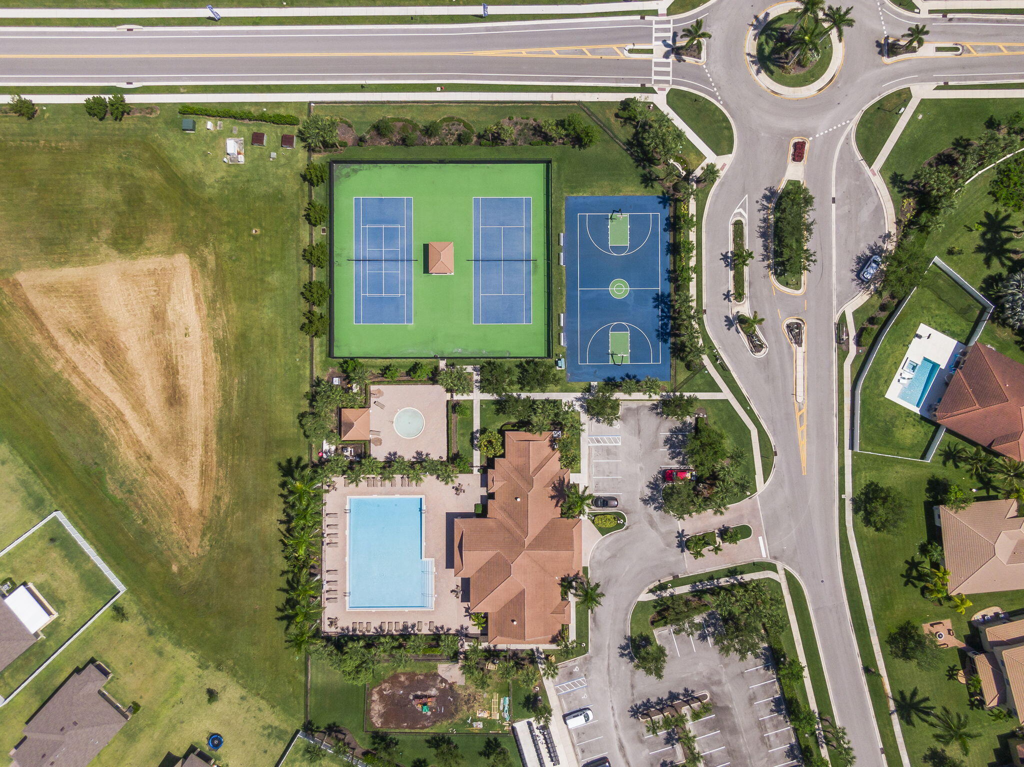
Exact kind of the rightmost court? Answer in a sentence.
Specifically, the rightmost court is a basketball court.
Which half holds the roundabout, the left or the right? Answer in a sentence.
The roundabout appears in the right half of the scene.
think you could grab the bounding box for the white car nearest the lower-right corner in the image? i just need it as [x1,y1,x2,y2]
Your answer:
[565,710,593,730]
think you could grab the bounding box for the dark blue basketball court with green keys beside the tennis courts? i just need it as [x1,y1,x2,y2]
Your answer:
[566,195,670,382]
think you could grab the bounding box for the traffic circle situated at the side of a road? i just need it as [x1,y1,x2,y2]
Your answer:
[745,0,844,99]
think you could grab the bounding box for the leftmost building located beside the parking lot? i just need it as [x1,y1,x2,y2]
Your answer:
[454,431,583,644]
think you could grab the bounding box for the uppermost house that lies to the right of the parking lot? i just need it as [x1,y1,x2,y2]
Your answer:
[935,341,1024,460]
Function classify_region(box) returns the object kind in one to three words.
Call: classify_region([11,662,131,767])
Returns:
house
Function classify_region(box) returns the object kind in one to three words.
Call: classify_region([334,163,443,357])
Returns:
tennis court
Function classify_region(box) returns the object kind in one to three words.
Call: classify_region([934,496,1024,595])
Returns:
house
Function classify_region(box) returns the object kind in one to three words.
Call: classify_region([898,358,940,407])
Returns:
swimming pool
